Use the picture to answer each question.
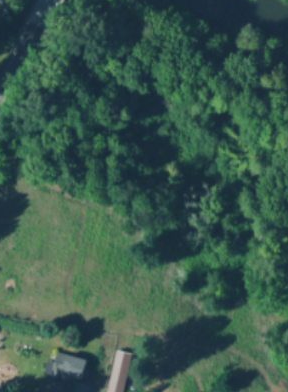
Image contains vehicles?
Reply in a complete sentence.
No, I can't see a single vehicle in this photo.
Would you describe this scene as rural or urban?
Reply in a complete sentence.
From above, the setting appears rural.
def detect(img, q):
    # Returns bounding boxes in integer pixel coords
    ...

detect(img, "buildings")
[108,350,132,392]
[49,353,88,378]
